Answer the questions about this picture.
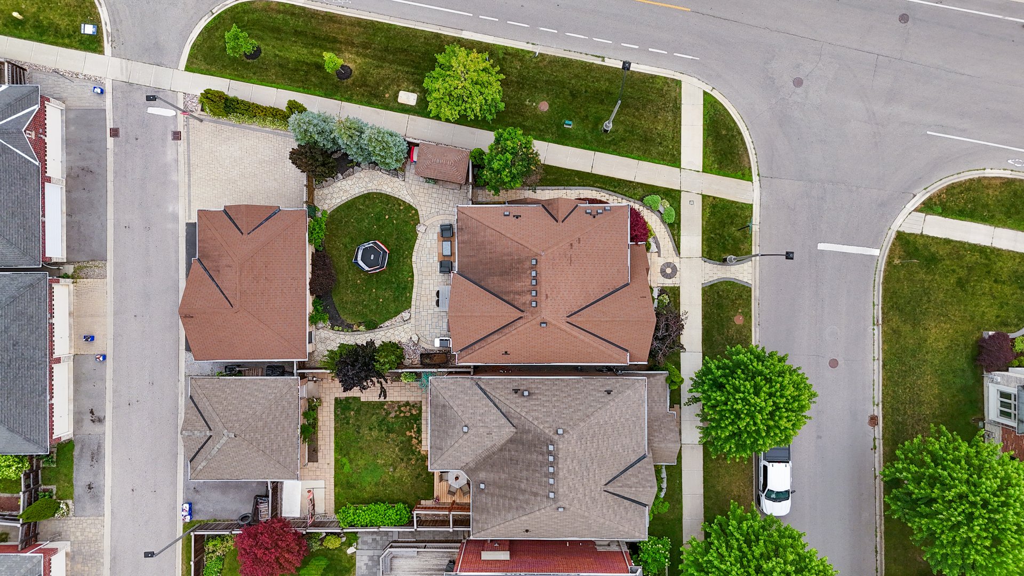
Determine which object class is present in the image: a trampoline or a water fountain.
trampoline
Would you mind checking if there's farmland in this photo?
No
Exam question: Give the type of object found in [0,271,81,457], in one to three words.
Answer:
building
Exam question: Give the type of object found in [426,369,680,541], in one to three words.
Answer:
house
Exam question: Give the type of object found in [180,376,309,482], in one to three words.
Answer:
building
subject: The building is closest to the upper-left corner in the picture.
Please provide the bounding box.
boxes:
[0,82,84,269]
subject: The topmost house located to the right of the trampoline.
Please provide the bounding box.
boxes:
[449,199,659,366]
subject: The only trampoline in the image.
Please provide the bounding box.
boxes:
[353,241,388,273]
